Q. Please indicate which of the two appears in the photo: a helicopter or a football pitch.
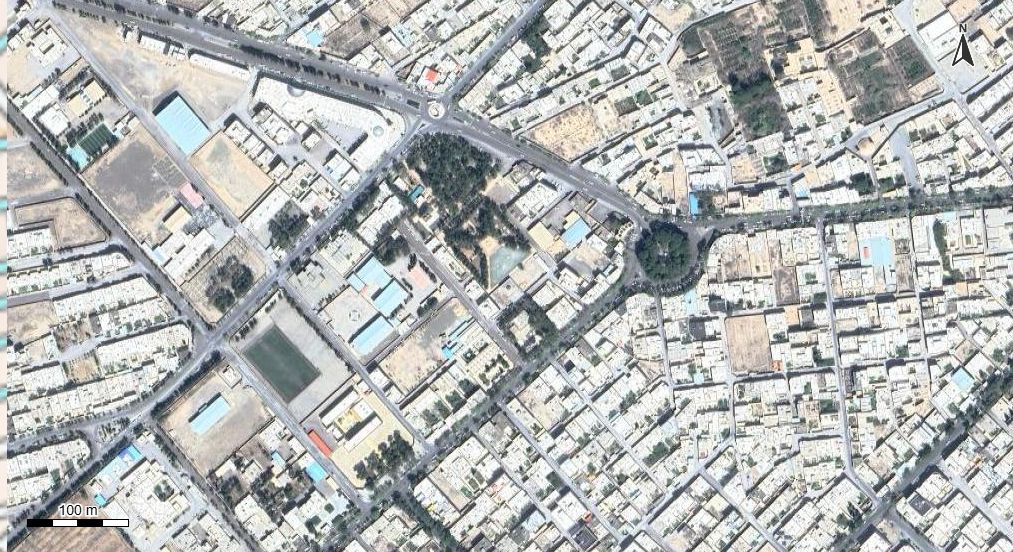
football pitch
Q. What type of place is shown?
residential area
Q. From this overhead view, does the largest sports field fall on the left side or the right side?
left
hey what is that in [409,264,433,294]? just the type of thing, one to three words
sports court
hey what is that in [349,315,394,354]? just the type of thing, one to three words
building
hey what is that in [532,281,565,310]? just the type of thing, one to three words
house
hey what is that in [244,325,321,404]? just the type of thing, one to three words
soccer field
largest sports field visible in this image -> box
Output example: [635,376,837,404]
[230,289,351,428]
